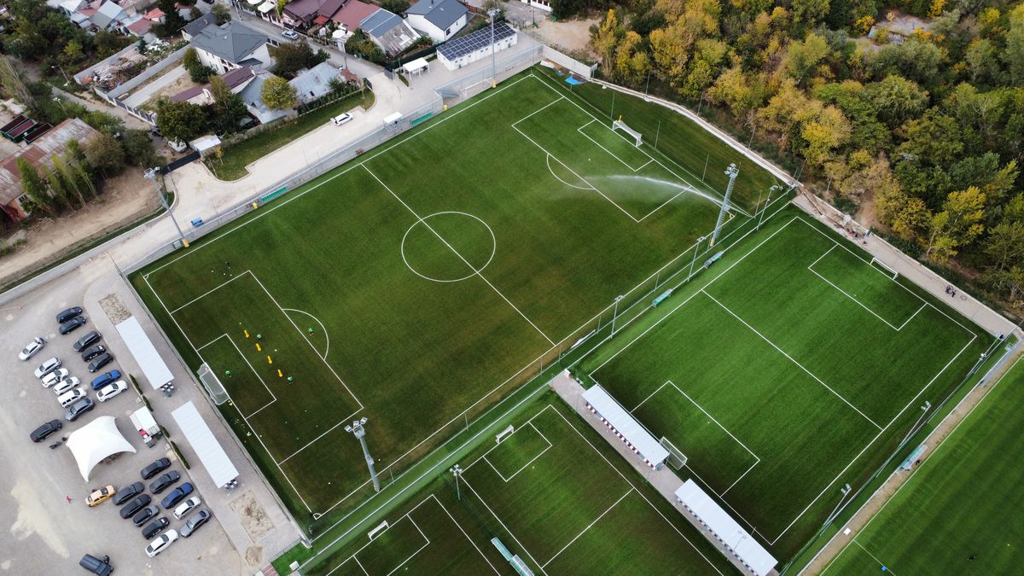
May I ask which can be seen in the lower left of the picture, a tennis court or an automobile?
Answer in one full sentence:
There is an automobile in the lower left of the picture.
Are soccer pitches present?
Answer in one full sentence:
Yes, a soccer pitch appears in the view.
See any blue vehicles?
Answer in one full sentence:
Yes, the image includes a blue vehicle.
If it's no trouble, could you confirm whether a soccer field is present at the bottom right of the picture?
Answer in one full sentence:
Yes, a soccer field appears at the bottom right of the picture.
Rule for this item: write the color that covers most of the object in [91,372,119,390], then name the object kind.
blue car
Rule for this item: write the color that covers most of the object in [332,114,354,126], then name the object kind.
white vehicle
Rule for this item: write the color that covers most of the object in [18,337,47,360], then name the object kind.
white car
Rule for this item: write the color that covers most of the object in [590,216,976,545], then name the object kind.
green soccer field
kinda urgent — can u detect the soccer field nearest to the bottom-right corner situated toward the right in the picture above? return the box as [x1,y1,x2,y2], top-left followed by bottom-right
[821,353,1024,576]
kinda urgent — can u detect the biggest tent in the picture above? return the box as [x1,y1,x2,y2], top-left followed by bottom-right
[66,417,137,483]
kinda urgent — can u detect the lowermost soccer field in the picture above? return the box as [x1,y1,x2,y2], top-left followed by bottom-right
[327,494,500,576]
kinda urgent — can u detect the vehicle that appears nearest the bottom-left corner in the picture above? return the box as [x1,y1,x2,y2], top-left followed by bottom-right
[76,553,113,576]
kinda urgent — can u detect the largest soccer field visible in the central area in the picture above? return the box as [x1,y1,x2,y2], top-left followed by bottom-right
[144,74,734,519]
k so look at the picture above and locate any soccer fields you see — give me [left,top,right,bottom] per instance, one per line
[144,74,734,519]
[461,405,722,576]
[821,353,1024,576]
[590,216,976,545]
[327,494,500,576]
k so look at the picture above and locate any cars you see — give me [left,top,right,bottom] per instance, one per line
[57,317,86,334]
[144,529,179,558]
[170,496,203,522]
[130,504,162,528]
[332,114,354,126]
[30,421,63,443]
[83,486,116,508]
[57,389,88,408]
[118,493,152,520]
[147,470,181,495]
[64,399,95,421]
[111,480,145,507]
[40,369,68,388]
[139,516,173,543]
[18,337,47,360]
[179,510,211,538]
[33,357,61,377]
[96,382,128,402]
[91,372,119,390]
[160,483,194,509]
[55,307,81,323]
[139,457,172,481]
[87,353,114,372]
[52,377,81,395]
[80,344,107,362]
[72,331,102,352]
